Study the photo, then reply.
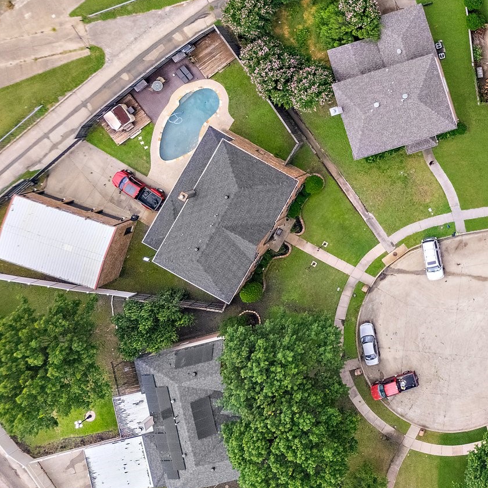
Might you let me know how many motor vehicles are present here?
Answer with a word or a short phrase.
four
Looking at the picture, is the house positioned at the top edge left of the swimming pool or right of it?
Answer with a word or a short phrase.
right of it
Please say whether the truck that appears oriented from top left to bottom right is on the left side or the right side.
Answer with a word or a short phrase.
left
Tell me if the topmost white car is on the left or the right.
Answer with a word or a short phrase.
right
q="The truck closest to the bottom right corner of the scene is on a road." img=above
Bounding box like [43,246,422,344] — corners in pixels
[369,371,421,401]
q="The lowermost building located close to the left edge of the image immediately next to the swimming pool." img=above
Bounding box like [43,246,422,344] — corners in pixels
[0,192,131,290]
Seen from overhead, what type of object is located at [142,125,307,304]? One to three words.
house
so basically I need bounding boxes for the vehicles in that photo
[369,371,421,401]
[360,322,382,366]
[422,237,445,280]
[110,168,166,215]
